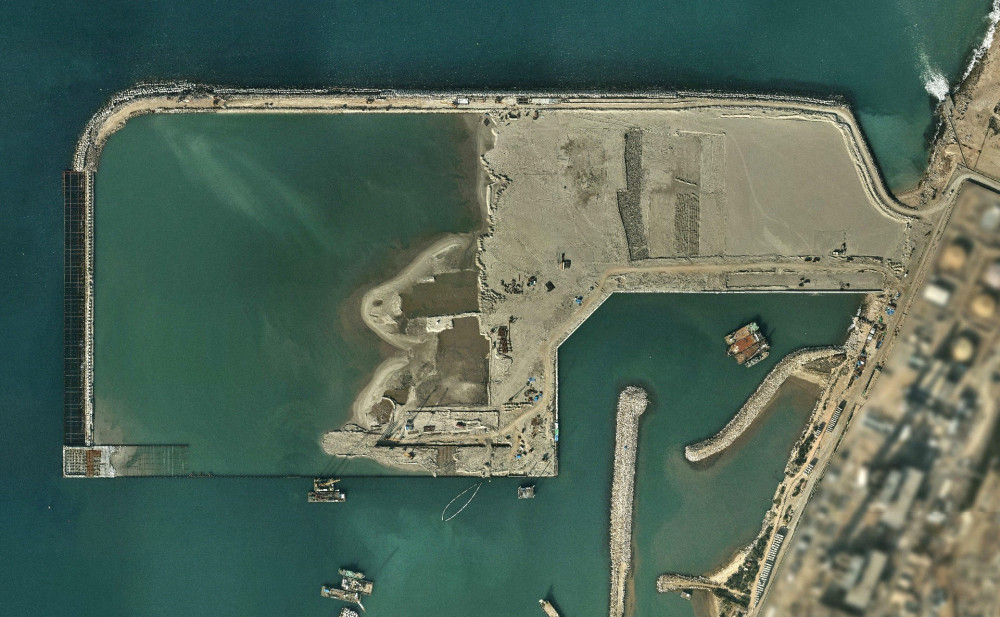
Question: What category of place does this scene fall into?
port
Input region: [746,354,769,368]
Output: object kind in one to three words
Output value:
ship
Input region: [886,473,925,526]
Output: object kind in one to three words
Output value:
building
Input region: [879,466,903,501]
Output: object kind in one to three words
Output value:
building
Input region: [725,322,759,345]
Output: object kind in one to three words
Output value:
ship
